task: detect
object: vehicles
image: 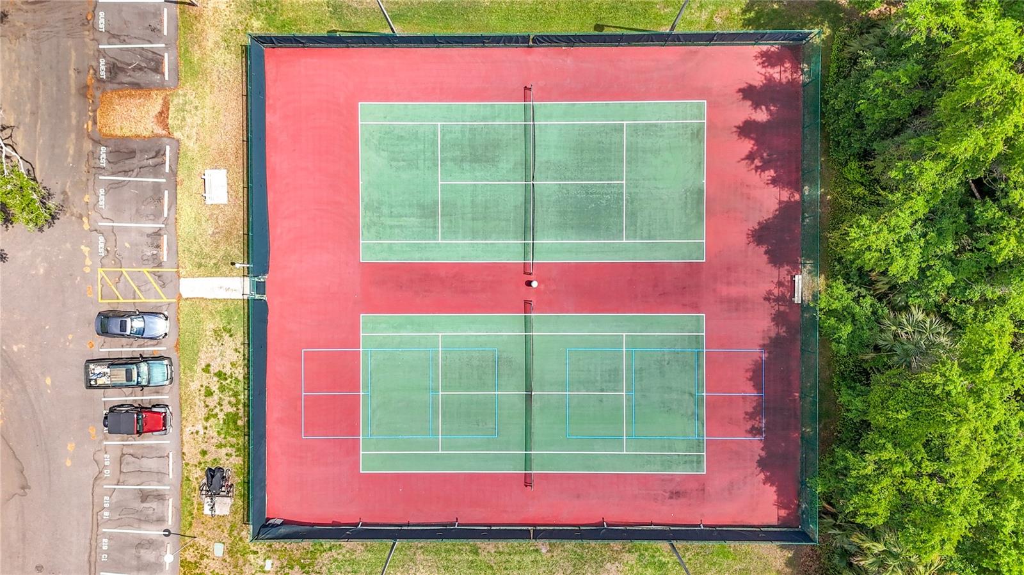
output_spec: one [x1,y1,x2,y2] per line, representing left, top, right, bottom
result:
[94,308,170,341]
[82,355,173,394]
[102,407,171,440]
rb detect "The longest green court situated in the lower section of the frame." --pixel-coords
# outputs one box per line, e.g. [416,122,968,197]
[360,314,706,474]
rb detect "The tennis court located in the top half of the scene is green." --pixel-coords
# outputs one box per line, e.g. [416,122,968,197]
[359,100,706,262]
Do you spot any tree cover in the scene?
Yes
